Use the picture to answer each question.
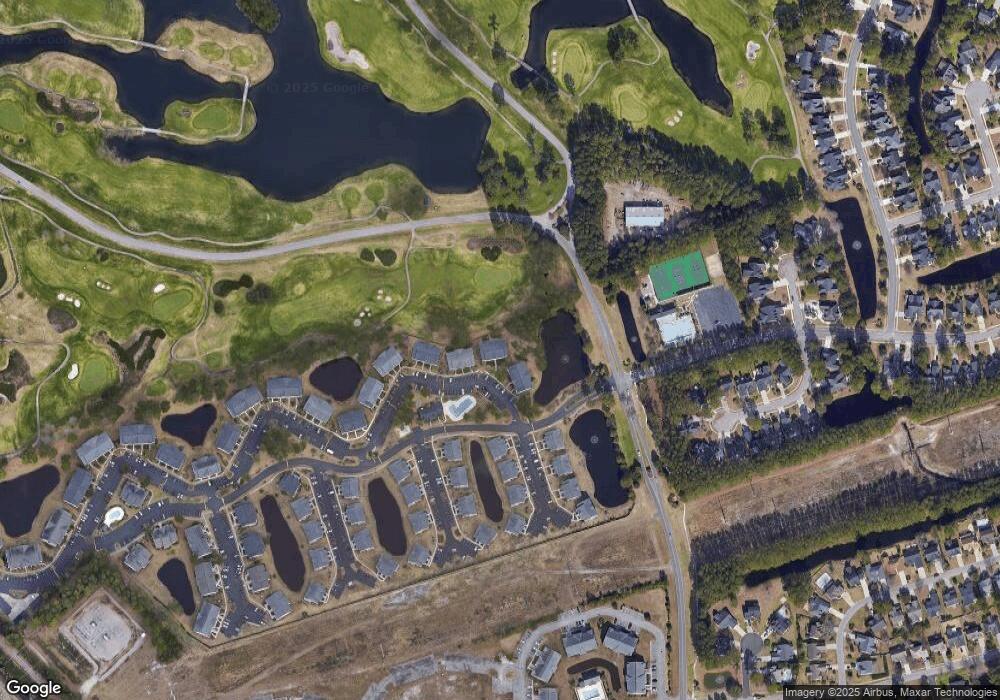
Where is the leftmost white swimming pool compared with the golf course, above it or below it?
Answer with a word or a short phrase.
below it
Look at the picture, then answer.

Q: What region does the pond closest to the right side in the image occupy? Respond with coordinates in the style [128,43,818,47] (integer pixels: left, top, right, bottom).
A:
[918,247,1000,286]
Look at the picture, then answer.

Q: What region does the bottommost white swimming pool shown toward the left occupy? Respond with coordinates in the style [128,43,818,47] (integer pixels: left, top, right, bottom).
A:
[104,507,124,526]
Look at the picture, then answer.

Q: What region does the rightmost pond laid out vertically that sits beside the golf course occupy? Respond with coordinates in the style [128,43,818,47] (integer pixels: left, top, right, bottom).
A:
[824,198,876,319]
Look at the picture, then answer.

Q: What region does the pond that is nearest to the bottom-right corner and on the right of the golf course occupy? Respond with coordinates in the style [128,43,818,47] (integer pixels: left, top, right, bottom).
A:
[824,368,911,426]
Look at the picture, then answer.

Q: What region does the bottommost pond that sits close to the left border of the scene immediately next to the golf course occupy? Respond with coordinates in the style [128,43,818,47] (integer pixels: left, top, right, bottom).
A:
[0,465,60,537]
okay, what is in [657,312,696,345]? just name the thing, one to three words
swimming pool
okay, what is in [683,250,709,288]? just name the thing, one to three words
tennis court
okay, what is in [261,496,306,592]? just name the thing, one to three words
pond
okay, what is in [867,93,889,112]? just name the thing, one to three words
house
